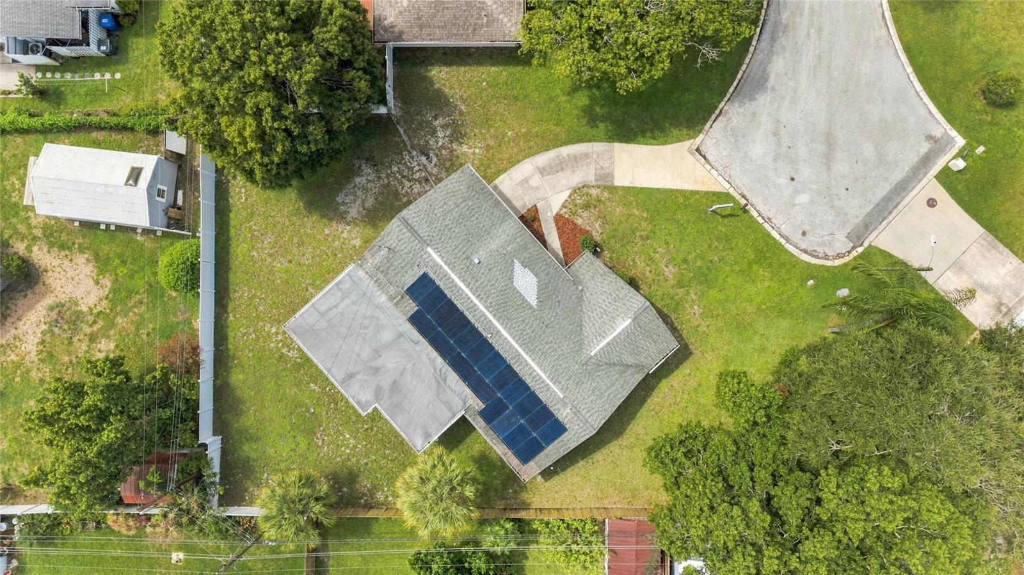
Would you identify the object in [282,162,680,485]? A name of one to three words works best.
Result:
house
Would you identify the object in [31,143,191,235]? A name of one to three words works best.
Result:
shed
